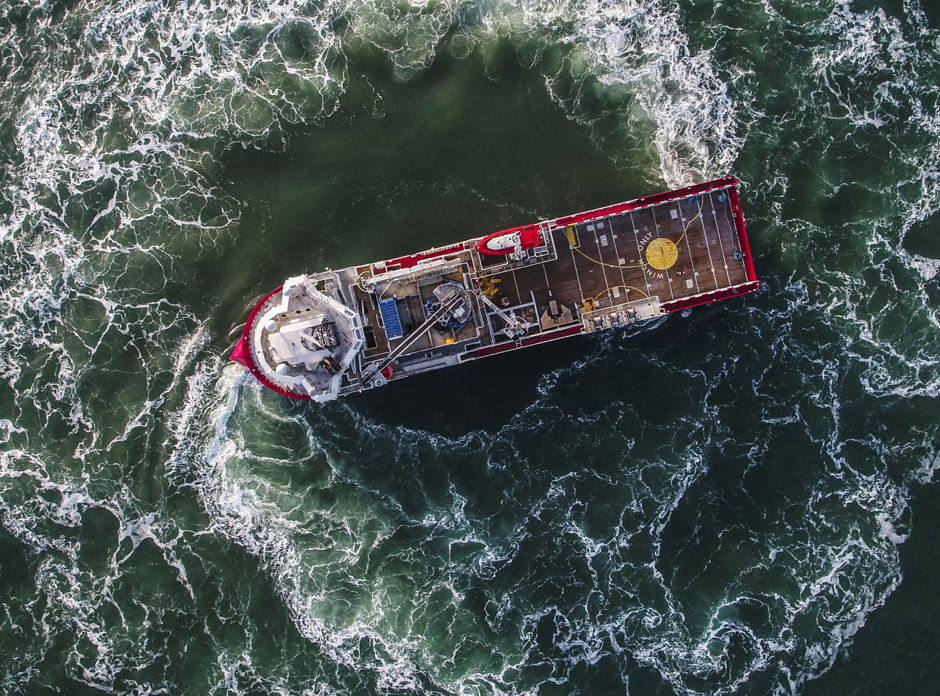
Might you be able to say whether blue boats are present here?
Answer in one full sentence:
No, the frame has no blue boat in it.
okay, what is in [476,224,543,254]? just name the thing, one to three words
boat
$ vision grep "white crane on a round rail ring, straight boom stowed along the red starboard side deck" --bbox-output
[356,259,445,292]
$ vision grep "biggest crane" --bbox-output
[355,282,474,387]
